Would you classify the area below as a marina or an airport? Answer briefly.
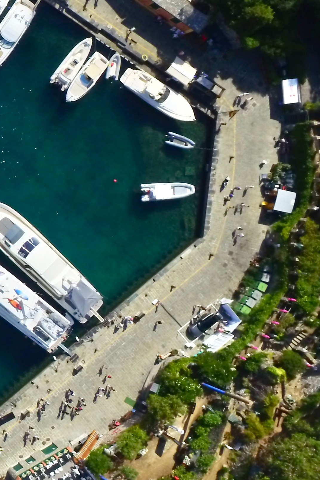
marina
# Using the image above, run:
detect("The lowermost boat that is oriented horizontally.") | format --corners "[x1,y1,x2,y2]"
[137,182,195,199]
